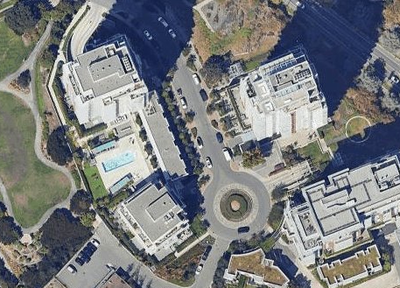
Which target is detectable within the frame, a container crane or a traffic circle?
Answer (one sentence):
This aerial view contains a traffic circle.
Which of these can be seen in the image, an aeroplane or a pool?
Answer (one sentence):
The image shows a pool.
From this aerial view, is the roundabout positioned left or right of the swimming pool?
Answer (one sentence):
The roundabout can be seen on the right of the swimming pool.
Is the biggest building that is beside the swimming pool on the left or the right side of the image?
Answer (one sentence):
The biggest building that is beside the swimming pool is on the left side of the image.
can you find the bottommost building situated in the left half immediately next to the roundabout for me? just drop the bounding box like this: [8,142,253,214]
[118,184,193,264]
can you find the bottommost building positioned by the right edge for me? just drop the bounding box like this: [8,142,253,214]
[317,245,381,288]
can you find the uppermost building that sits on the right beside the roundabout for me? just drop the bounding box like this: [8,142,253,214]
[237,53,328,141]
